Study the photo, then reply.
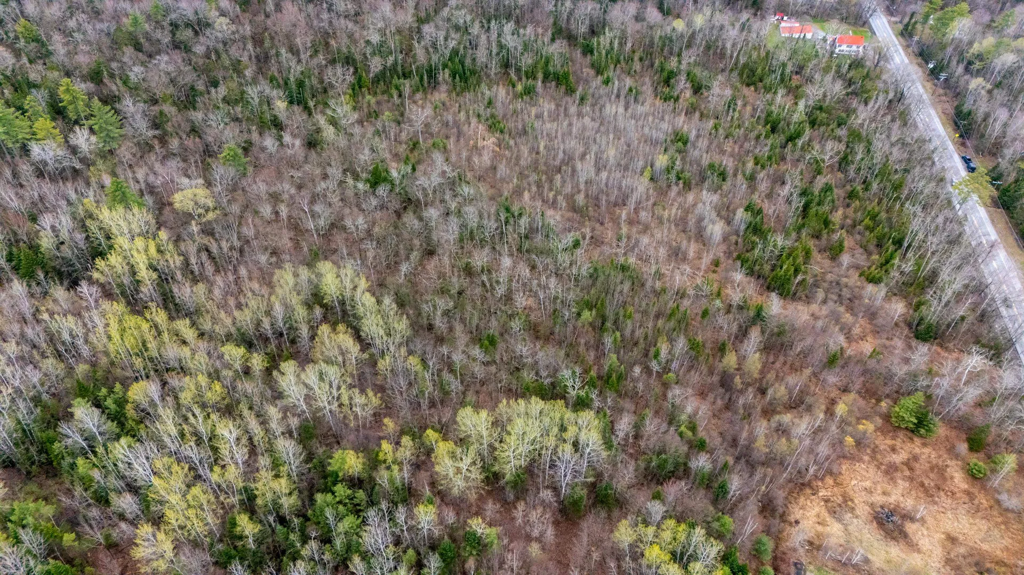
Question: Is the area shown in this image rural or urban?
rural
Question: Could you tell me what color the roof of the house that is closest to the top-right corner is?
red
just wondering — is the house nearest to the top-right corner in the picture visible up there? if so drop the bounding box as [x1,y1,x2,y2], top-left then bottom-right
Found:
[824,32,869,55]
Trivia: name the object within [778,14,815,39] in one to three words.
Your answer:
barn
